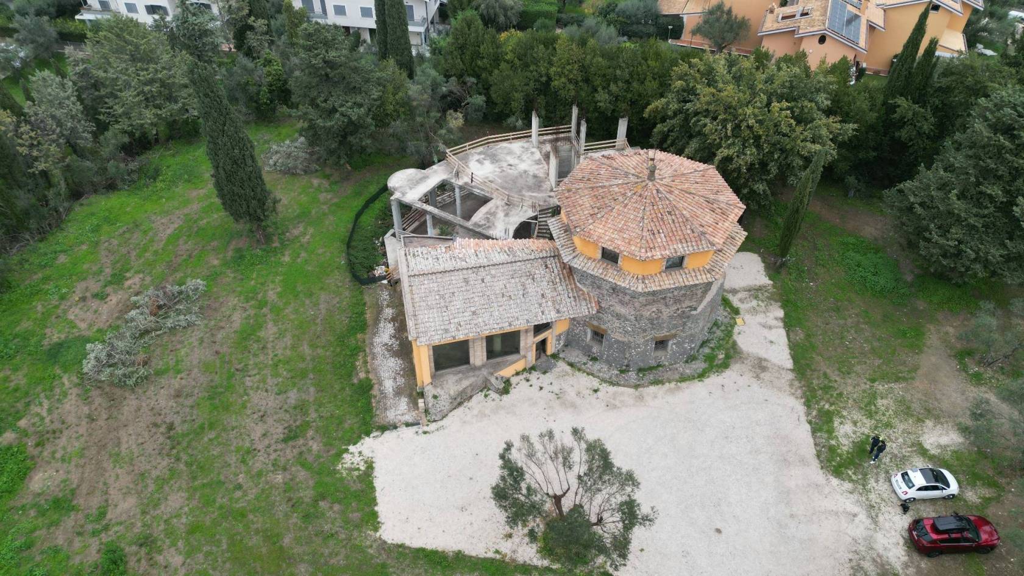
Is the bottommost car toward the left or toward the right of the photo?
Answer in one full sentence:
The bottommost car is on the right side of the image.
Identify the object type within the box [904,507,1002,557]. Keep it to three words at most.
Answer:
car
